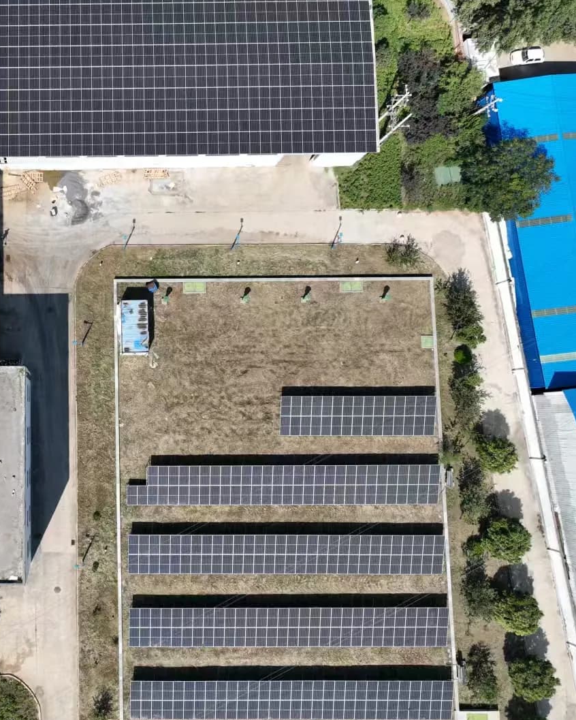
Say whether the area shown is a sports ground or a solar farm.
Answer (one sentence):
This looks like a solar farm.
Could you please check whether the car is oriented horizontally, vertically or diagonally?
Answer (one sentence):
From this overhead view, the car appears to run horizontally.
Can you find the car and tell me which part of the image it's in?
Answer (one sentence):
The car sits in the top right section of the image.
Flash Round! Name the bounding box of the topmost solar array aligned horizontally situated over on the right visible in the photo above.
[281,396,436,436]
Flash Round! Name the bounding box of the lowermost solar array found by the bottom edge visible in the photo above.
[131,680,453,720]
